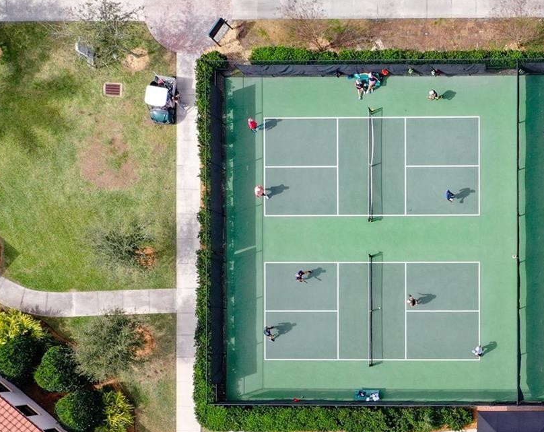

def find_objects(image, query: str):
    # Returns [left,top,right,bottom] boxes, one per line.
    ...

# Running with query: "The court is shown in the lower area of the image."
[264,262,481,361]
